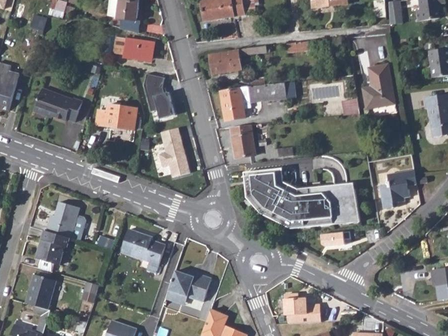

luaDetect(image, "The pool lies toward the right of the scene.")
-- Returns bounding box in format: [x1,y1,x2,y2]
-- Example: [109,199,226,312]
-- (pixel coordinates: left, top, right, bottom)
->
[310,85,340,100]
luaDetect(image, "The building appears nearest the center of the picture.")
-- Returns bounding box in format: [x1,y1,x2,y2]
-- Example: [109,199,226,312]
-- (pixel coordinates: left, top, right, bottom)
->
[229,125,256,161]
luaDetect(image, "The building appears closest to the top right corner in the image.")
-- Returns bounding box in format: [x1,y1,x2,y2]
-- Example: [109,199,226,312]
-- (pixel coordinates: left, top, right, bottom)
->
[416,0,442,23]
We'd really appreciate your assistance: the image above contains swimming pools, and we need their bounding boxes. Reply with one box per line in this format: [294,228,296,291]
[157,326,169,336]
[310,85,340,100]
